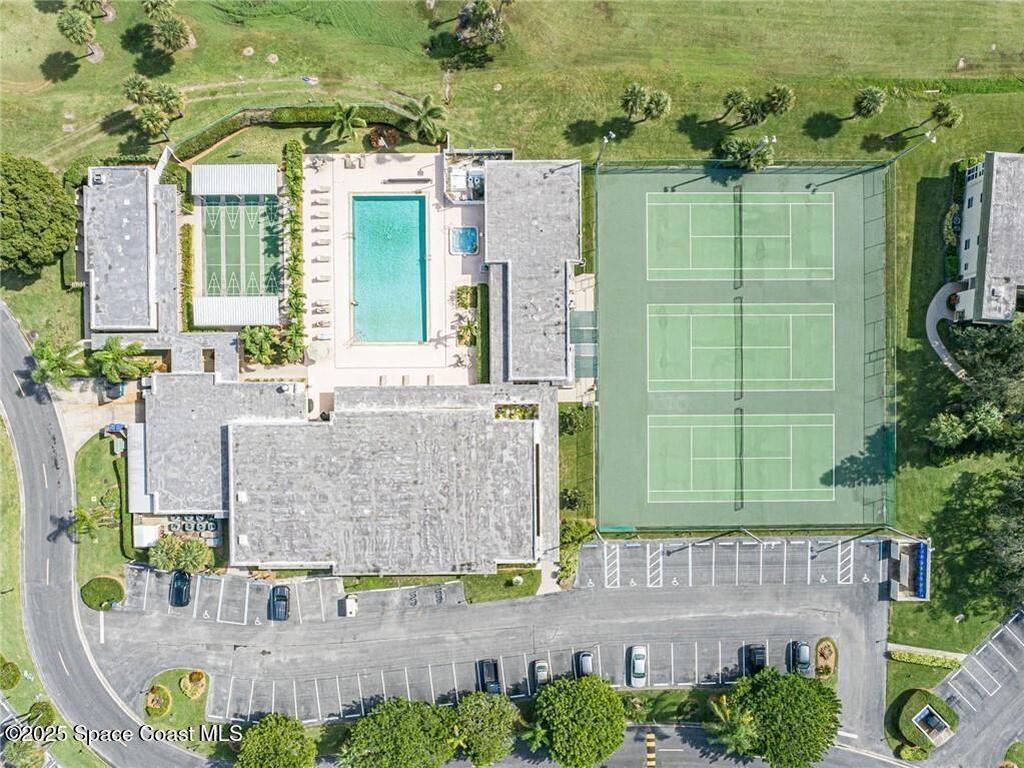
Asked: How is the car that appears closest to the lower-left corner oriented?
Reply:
vertically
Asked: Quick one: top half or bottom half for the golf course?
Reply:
top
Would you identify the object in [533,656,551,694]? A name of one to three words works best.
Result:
car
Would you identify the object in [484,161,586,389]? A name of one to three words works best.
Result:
building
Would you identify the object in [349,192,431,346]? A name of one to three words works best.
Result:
swimming pool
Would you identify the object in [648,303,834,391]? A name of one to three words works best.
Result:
tennis court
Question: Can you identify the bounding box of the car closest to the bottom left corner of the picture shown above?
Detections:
[171,568,191,607]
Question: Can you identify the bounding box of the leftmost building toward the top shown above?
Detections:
[80,167,169,333]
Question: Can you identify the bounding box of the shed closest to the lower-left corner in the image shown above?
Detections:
[134,524,166,547]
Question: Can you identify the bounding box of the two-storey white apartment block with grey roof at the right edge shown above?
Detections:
[949,151,1024,326]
